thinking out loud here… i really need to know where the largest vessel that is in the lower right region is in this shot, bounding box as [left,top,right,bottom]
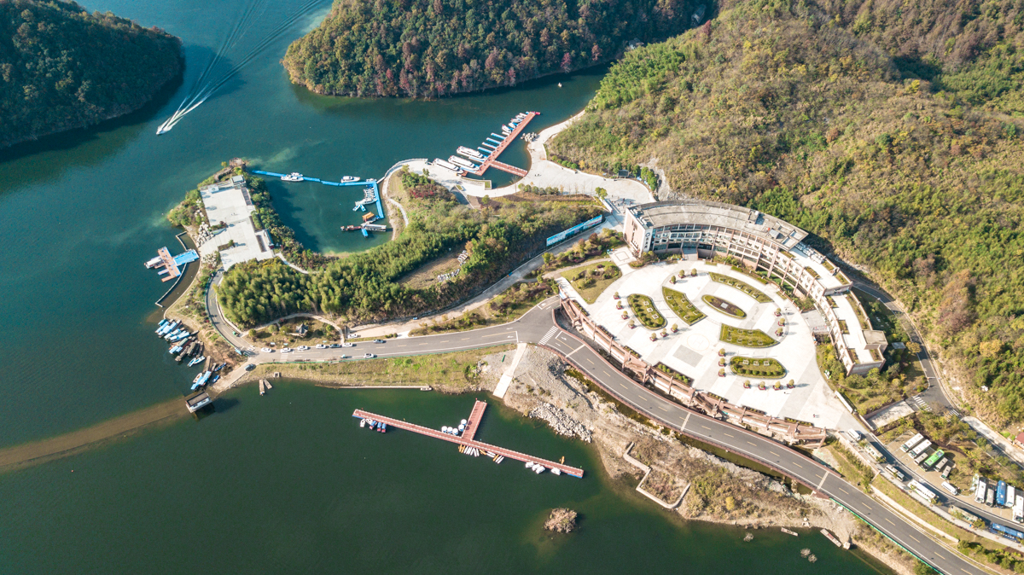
[818,528,841,549]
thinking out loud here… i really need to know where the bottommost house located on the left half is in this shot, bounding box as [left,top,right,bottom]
[179,387,215,419]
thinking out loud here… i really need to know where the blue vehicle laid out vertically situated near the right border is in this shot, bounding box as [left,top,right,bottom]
[992,480,1006,510]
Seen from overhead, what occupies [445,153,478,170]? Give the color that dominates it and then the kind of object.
white boat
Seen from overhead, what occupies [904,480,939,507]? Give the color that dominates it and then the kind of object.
white bus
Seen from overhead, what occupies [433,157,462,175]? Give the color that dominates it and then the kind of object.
white boat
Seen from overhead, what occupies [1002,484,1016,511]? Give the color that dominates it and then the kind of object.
white vehicle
